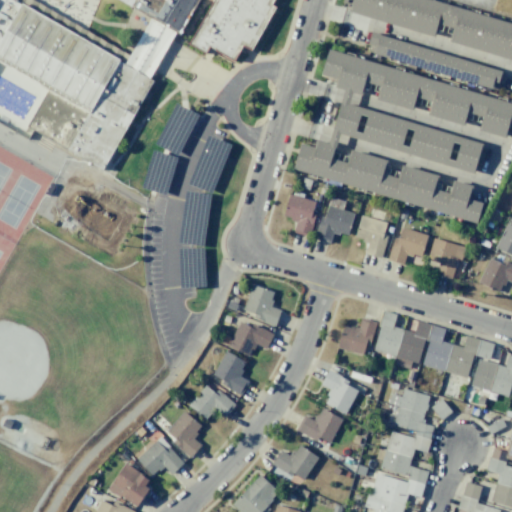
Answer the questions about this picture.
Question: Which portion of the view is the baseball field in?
bottom left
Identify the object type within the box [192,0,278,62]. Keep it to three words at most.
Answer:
building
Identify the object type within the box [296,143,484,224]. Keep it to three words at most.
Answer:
building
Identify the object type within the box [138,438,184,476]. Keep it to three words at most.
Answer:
house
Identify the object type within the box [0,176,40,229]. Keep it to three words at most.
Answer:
tennis court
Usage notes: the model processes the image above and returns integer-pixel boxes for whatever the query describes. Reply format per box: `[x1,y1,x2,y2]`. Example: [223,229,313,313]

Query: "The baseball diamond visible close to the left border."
[0,318,60,464]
